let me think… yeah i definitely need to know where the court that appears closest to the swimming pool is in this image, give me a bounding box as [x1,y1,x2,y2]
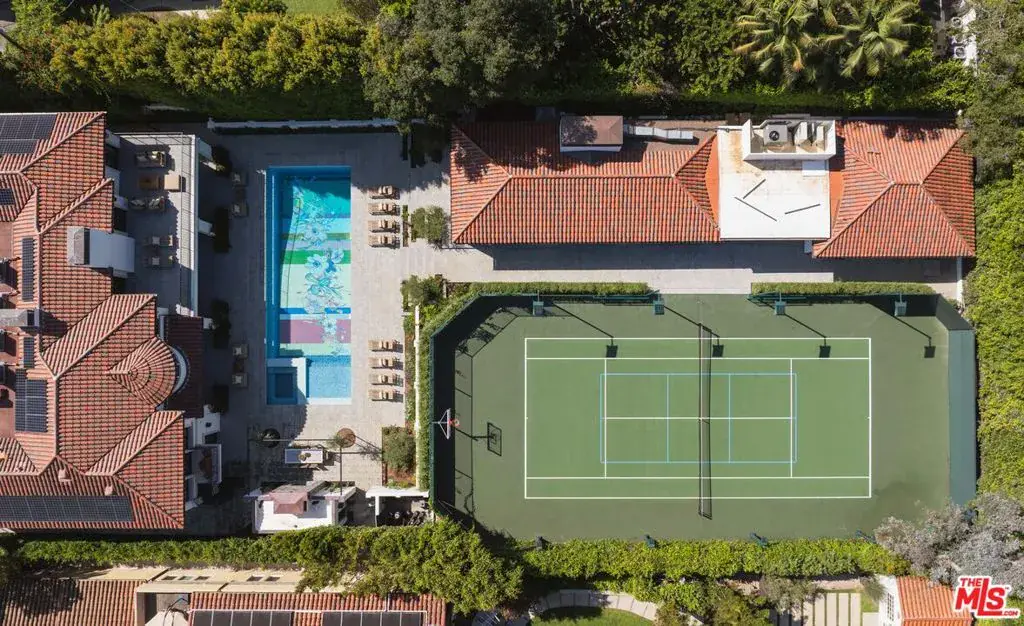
[436,296,949,542]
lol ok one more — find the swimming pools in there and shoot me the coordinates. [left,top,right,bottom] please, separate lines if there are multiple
[264,164,353,406]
